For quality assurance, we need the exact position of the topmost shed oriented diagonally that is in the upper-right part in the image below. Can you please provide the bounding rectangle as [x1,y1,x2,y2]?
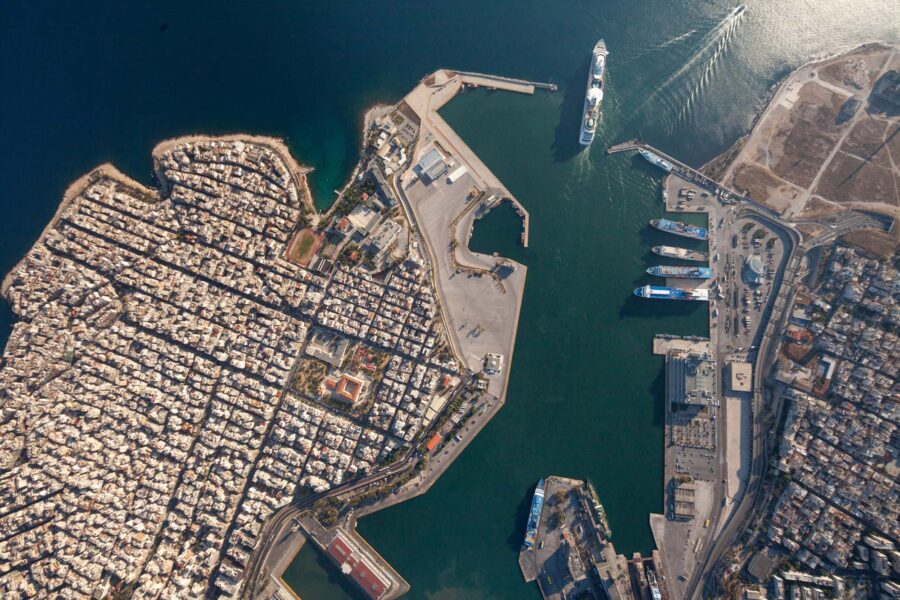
[835,96,861,123]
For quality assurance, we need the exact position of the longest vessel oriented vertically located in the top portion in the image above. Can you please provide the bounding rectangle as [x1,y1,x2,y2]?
[577,41,607,148]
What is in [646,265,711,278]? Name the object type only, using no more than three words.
ship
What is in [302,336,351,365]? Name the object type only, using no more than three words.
building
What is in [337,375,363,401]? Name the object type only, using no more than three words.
building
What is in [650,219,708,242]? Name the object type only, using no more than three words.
ship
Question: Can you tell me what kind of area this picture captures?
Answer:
port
